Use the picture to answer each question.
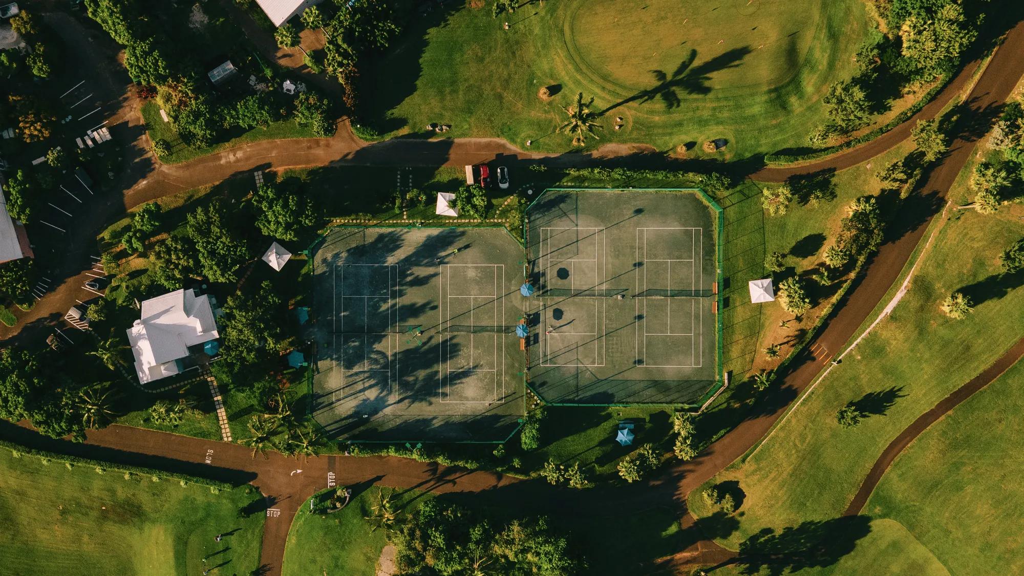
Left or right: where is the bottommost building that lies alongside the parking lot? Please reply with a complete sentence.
You can find the bottommost building that lies alongside the parking lot on the left side of the picture.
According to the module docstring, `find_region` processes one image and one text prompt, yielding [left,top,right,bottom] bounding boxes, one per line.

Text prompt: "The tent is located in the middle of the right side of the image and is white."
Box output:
[747,278,773,303]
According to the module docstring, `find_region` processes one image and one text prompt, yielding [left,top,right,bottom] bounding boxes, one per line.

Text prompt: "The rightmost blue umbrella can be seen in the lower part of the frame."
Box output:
[615,426,633,445]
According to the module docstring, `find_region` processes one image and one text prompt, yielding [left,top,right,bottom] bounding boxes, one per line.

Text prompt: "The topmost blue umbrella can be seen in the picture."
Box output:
[520,282,534,296]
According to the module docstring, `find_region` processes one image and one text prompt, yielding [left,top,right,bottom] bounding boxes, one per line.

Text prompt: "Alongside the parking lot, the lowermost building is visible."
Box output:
[126,289,223,384]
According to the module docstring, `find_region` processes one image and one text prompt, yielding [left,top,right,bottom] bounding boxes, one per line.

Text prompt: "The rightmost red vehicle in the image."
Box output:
[479,164,491,188]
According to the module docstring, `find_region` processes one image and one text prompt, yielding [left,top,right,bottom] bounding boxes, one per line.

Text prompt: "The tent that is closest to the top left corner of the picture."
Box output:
[263,243,296,272]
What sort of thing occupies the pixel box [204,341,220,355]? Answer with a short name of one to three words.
umbrella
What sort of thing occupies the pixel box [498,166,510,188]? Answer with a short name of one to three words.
vehicle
